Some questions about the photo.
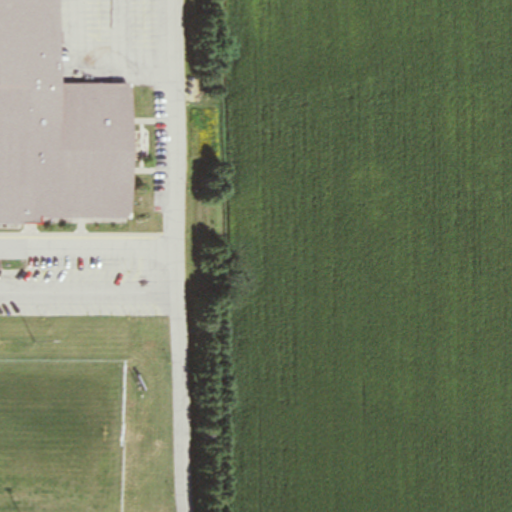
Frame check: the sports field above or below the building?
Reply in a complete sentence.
The sports field is below the building.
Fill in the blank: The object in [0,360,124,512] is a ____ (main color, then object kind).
green sports field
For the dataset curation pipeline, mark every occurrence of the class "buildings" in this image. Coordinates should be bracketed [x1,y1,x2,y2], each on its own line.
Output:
[0,0,134,224]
